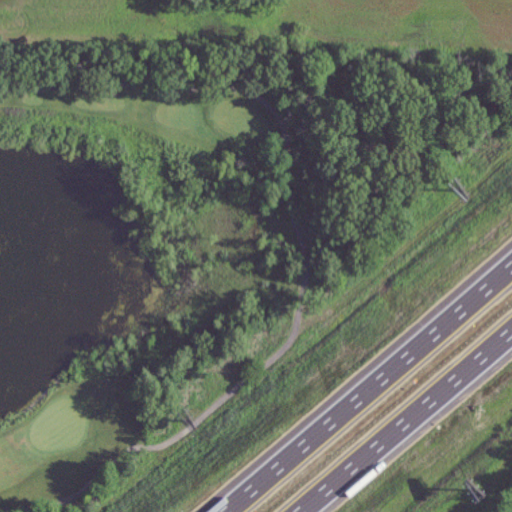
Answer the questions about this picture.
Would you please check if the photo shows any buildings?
No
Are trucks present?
Yes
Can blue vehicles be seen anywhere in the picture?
No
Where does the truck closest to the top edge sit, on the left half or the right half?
right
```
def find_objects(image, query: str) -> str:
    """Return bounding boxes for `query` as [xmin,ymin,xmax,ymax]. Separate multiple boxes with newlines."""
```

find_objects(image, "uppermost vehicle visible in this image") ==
[346,462,385,498]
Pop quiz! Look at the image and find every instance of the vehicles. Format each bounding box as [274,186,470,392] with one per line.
[210,498,230,512]
[346,462,385,498]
